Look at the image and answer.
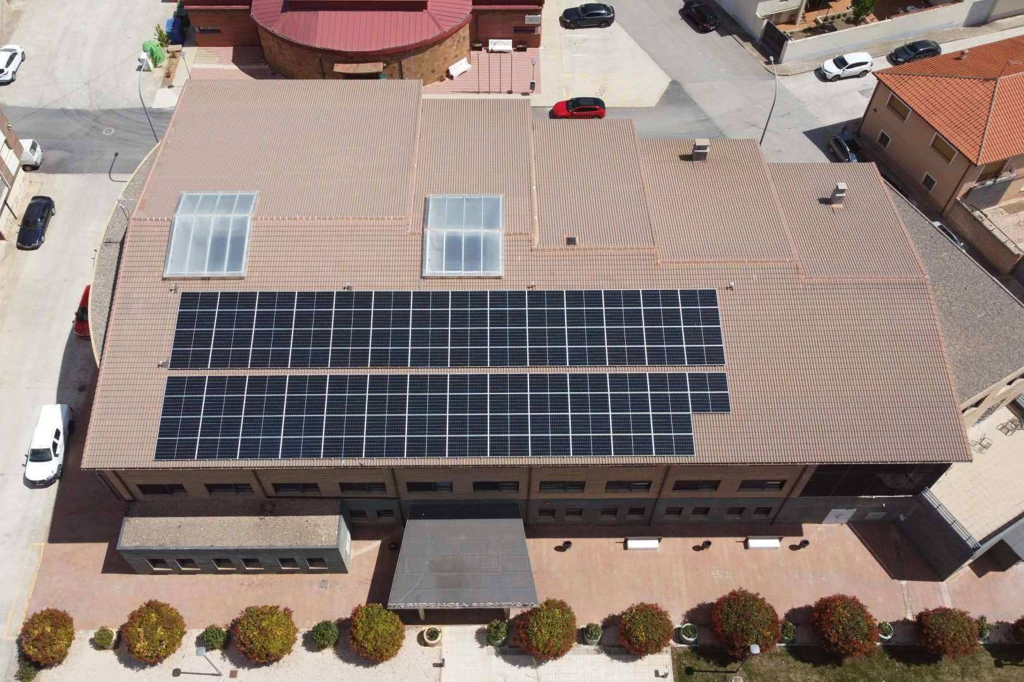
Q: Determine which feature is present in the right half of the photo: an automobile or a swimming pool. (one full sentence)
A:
What appears in the right half of the photo is an automobile.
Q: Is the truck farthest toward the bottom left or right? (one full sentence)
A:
The truck farthest toward the bottom is on the left side of the image.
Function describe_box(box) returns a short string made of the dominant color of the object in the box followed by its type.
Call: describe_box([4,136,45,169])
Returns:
white van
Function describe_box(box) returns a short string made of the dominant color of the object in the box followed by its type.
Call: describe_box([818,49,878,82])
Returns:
white car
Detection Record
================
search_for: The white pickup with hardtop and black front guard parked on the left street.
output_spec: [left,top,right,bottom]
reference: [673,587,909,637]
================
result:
[21,410,73,496]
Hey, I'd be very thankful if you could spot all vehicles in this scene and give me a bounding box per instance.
[885,34,941,62]
[21,410,73,496]
[561,0,617,28]
[12,196,55,251]
[681,3,722,41]
[553,90,608,118]
[818,49,878,82]
[4,136,45,169]
[819,126,870,163]
[75,285,94,337]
